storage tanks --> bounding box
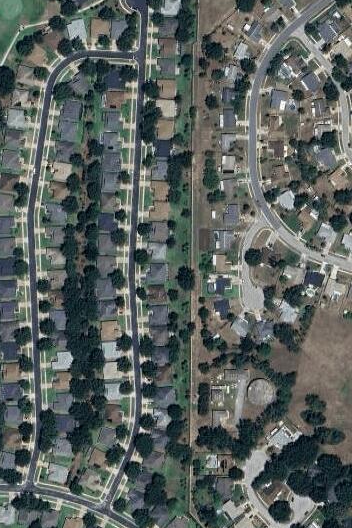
[247,378,276,406]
